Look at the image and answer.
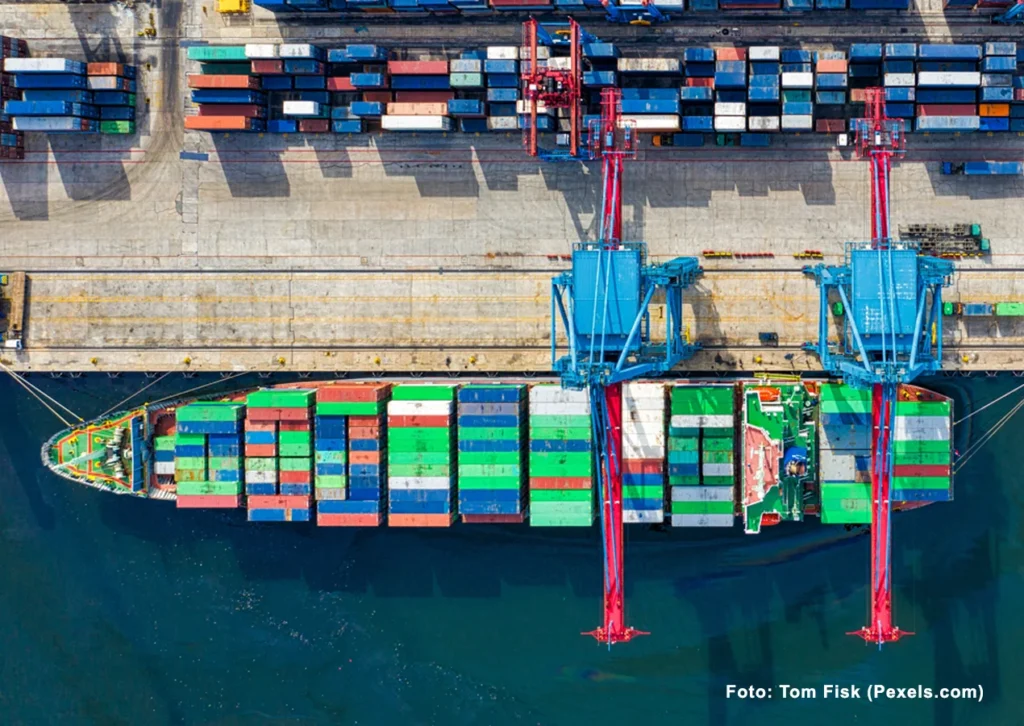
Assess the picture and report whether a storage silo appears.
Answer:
No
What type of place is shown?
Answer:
port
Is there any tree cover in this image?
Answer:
No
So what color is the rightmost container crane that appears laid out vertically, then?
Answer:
blue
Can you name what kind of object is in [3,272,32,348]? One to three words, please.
truck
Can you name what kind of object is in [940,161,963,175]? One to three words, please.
vehicle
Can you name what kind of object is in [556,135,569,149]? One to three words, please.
vehicle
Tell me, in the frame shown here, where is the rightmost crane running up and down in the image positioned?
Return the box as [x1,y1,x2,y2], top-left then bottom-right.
[802,89,952,651]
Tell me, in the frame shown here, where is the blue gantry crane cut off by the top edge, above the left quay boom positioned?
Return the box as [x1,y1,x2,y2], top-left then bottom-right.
[595,0,673,22]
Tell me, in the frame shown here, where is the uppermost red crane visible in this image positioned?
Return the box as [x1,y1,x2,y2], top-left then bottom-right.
[523,18,609,159]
